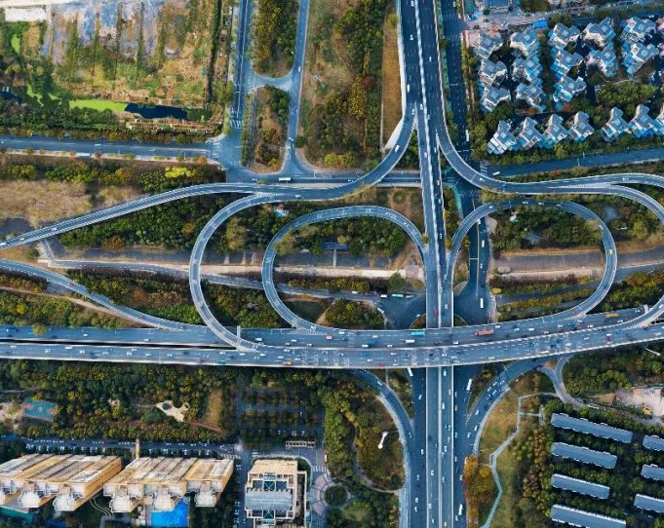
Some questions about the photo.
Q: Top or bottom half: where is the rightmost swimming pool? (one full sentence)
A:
Seen from above, the rightmost swimming pool lies in the bottom half of the view.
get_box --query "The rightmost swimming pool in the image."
[149,497,190,528]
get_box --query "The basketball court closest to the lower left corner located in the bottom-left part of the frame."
[22,398,56,420]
